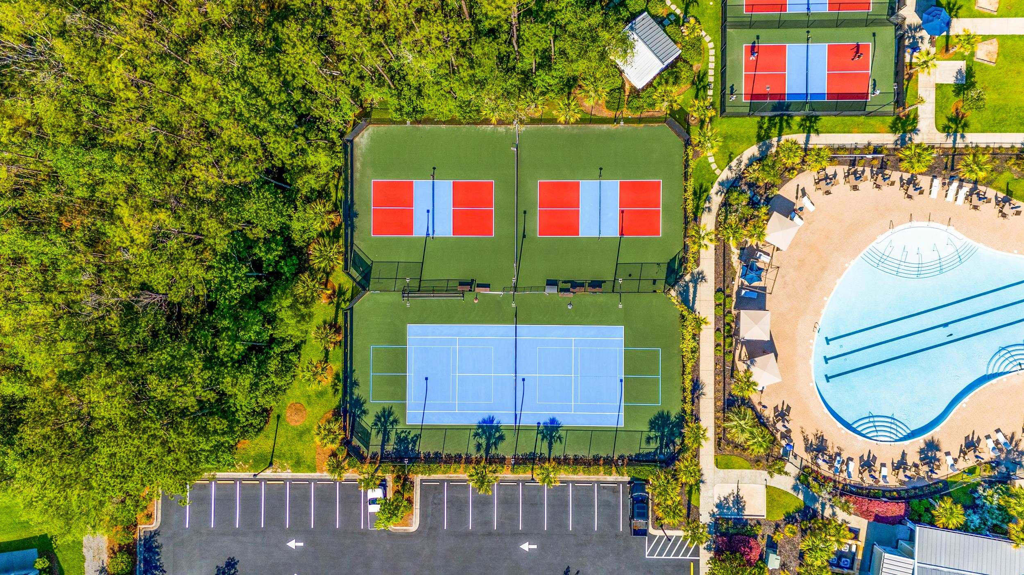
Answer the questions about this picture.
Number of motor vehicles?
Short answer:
2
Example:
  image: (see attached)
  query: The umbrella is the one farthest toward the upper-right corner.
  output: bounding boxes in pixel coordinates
[920,8,948,36]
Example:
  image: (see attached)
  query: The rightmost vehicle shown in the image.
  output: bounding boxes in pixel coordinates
[628,481,652,539]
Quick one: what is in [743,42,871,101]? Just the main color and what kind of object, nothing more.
red sports court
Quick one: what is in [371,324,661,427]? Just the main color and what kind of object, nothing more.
blue tennis court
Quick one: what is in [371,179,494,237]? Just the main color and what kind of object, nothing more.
red sports court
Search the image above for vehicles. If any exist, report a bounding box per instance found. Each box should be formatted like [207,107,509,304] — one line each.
[628,481,652,539]
[363,482,387,532]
